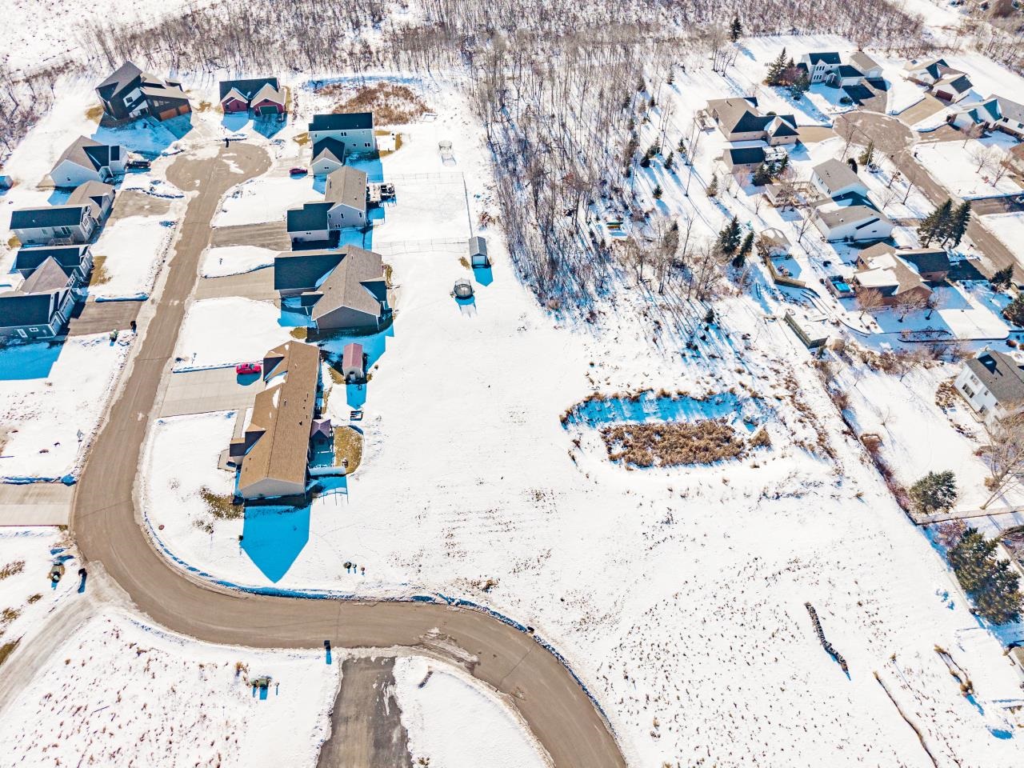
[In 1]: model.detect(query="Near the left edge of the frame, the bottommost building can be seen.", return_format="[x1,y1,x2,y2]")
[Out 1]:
[0,245,101,339]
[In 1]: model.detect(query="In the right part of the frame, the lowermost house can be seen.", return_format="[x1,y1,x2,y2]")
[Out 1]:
[954,345,1024,434]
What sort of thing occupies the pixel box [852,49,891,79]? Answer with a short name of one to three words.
building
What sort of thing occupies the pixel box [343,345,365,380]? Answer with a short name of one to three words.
shed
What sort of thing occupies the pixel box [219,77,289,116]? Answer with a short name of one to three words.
house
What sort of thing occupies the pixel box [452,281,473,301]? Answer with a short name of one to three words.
trampoline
